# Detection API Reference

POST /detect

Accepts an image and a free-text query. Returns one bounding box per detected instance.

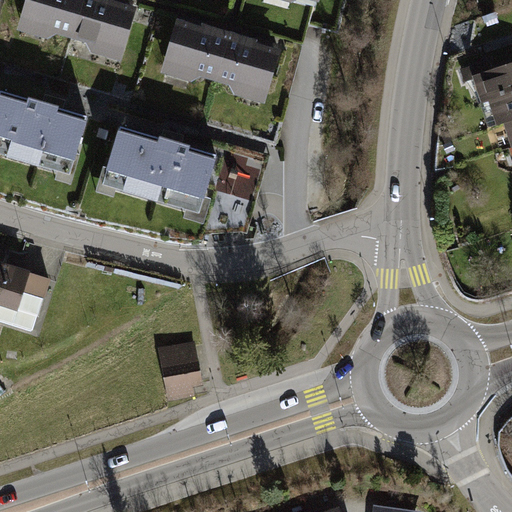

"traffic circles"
[349,305,488,444]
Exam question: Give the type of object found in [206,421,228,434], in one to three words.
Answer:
vehicle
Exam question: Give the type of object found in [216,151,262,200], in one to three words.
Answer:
building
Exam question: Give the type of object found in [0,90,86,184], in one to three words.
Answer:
house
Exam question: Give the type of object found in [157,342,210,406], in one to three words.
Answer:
barn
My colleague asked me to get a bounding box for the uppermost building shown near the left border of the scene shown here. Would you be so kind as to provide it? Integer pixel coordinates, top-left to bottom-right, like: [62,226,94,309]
[17,0,138,69]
